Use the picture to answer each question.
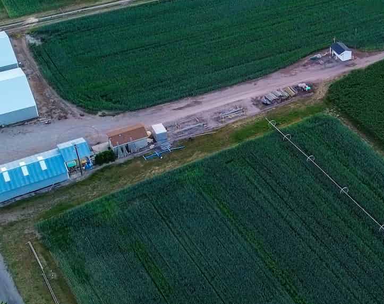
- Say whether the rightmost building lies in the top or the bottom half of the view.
top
